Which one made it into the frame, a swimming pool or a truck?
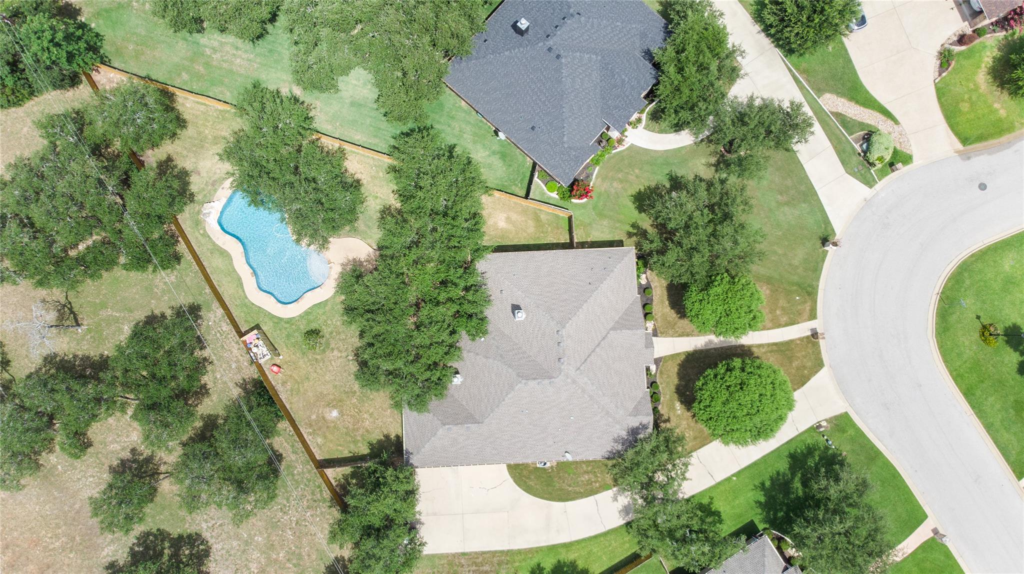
swimming pool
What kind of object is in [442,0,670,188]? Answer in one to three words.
house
